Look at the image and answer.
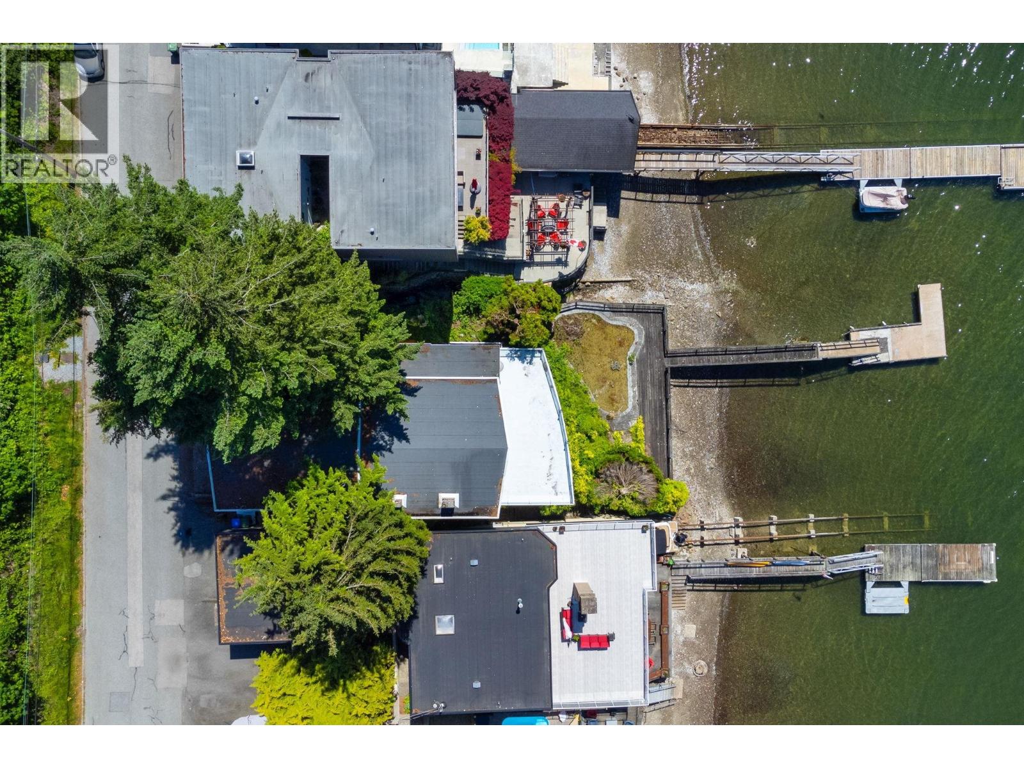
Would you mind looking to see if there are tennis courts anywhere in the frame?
No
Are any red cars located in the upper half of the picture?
No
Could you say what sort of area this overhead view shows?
residential area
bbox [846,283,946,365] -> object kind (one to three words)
pier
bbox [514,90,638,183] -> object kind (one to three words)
building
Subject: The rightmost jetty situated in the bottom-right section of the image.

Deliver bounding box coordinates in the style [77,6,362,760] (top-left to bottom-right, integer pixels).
[860,543,997,583]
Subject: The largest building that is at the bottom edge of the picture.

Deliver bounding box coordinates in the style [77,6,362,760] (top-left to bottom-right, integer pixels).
[358,520,660,746]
